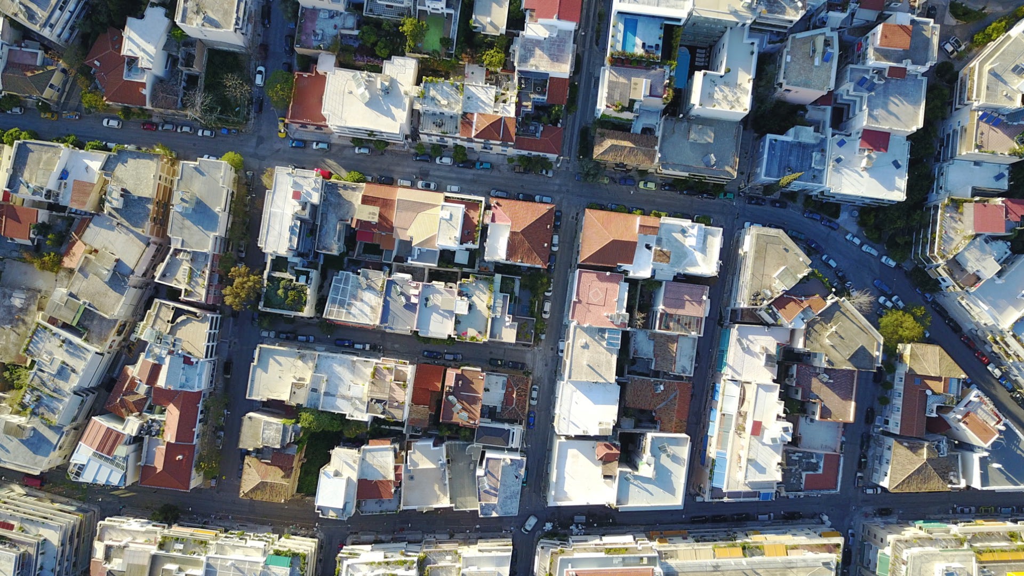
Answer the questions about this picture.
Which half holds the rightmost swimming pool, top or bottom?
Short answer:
top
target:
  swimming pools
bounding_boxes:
[670,46,692,93]
[623,18,637,52]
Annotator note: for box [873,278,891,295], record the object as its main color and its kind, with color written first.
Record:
blue car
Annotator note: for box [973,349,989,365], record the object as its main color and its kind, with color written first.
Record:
red car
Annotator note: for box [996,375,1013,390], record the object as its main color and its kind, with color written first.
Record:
blue car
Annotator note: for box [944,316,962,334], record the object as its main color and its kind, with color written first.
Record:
black car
